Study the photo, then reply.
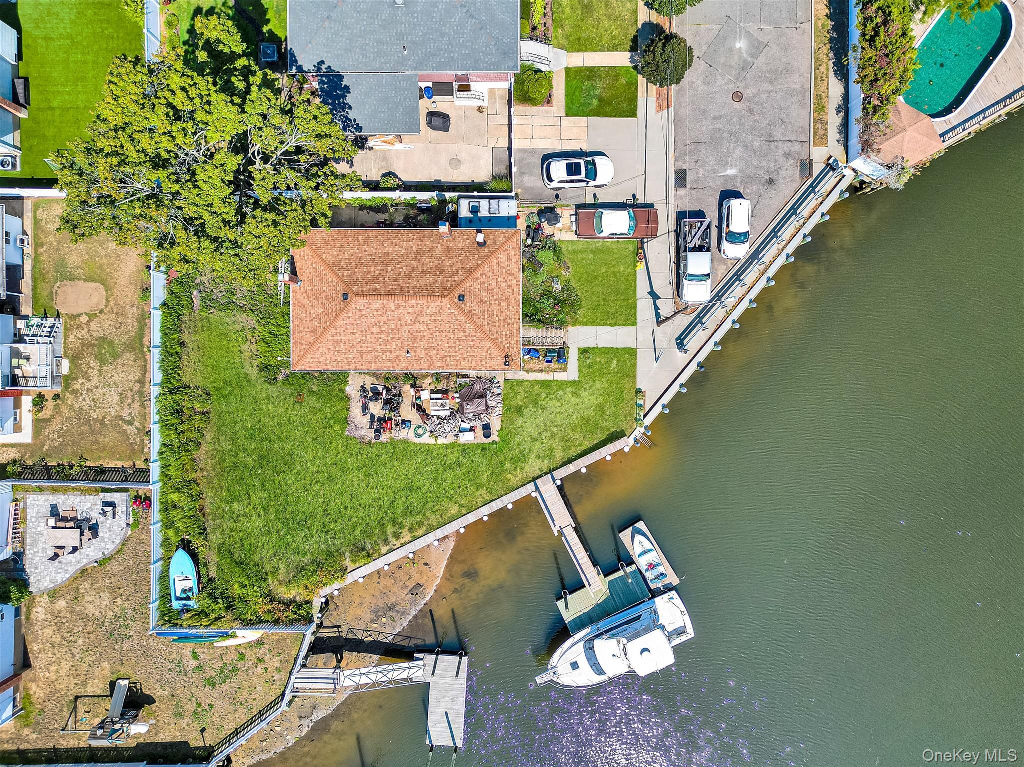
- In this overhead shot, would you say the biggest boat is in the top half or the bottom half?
bottom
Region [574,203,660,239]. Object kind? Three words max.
car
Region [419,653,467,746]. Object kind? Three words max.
pier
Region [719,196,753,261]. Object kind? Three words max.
car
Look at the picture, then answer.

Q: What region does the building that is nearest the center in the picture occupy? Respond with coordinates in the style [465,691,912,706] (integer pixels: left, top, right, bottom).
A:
[280,223,522,371]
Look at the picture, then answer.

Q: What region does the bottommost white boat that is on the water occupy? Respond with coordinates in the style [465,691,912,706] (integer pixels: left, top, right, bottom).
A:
[534,589,691,690]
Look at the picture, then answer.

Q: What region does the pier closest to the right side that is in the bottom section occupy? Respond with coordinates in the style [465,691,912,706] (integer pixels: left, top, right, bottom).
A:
[622,518,676,594]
